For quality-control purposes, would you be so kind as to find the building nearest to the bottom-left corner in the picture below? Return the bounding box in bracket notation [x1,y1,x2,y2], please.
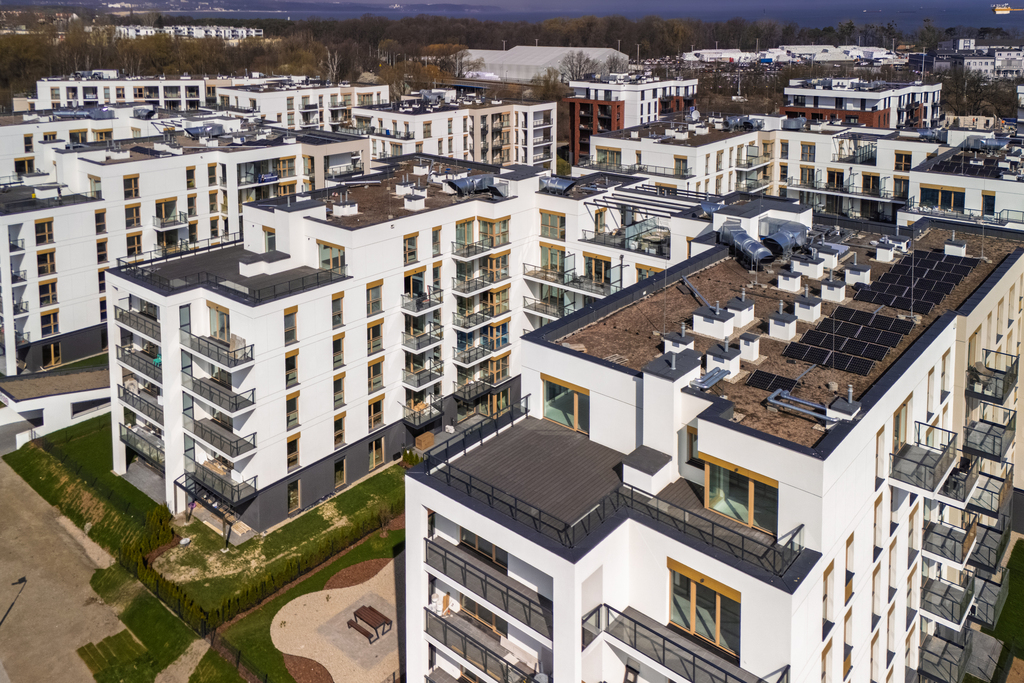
[0,370,113,433]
